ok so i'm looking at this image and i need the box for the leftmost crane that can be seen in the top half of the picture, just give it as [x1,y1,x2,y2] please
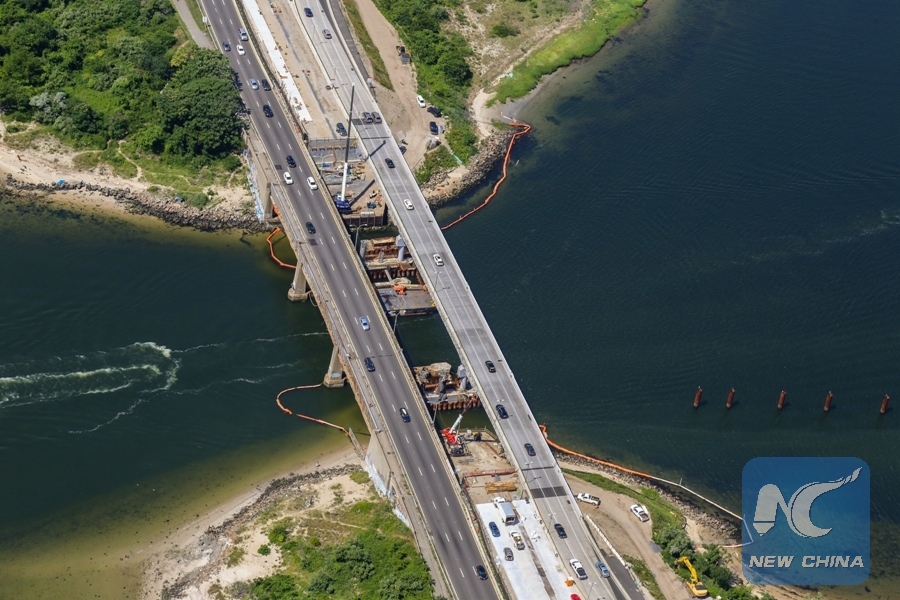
[333,82,359,215]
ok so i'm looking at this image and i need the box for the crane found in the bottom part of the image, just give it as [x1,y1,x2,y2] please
[440,396,475,456]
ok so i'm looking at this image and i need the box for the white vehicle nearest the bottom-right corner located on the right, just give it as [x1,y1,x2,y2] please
[632,503,650,521]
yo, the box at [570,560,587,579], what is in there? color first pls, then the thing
white vehicle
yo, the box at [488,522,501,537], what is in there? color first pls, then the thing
blue vehicle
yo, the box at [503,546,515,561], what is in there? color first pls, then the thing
gray vehicle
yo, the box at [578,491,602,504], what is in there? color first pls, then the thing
white vehicle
